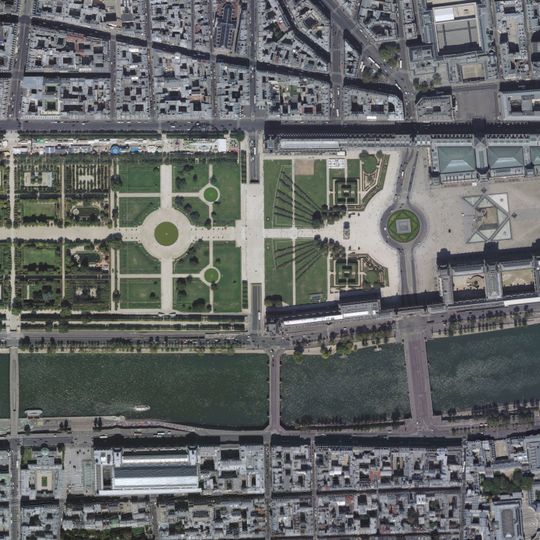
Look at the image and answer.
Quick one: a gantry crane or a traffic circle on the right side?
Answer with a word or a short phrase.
traffic circle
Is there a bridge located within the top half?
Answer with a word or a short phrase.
No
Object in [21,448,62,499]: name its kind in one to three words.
house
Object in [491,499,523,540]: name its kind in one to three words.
building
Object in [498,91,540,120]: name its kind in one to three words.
building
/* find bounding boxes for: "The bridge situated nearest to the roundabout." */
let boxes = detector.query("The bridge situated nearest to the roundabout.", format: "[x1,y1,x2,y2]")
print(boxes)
[403,334,434,422]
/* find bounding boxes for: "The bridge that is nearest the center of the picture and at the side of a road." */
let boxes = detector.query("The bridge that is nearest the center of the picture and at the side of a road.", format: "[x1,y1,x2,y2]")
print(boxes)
[267,345,281,432]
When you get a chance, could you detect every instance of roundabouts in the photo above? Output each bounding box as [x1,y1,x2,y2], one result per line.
[379,202,427,250]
